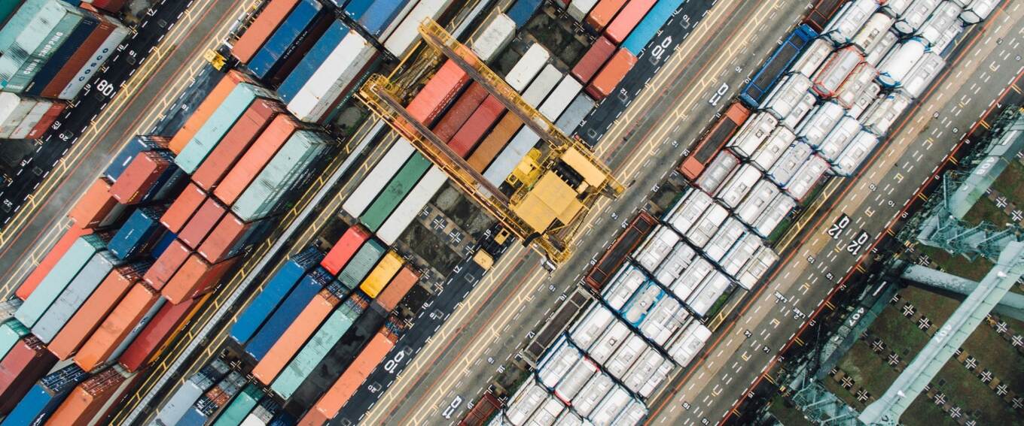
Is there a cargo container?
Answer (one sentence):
Yes, the photo shows a cargo container.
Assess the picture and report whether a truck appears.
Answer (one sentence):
Yes, this view includes a truck.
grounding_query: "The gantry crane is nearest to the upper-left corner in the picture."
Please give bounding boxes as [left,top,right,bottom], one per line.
[355,4,634,264]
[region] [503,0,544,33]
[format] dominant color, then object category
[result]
blue shipping container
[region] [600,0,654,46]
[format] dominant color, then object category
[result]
pink shipping container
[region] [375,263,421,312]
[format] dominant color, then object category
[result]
red shipping container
